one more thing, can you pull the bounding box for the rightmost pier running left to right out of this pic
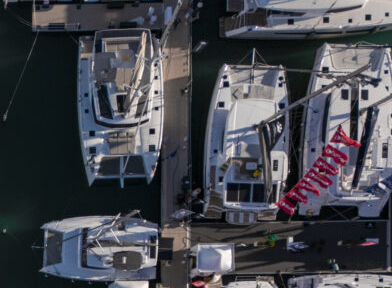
[190,221,389,273]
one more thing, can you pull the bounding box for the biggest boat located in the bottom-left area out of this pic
[40,208,167,285]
